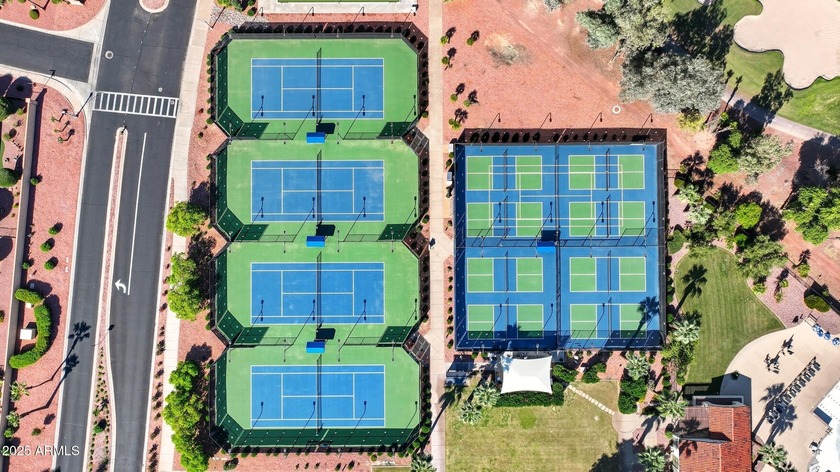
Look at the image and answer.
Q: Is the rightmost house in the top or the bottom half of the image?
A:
bottom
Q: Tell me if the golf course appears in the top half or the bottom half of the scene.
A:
top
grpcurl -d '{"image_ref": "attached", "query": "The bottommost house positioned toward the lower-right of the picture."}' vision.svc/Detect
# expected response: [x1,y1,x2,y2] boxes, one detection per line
[671,392,753,472]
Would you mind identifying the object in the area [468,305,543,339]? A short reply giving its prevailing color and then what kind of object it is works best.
green sports court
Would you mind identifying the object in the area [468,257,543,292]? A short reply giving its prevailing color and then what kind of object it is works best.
green sports court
